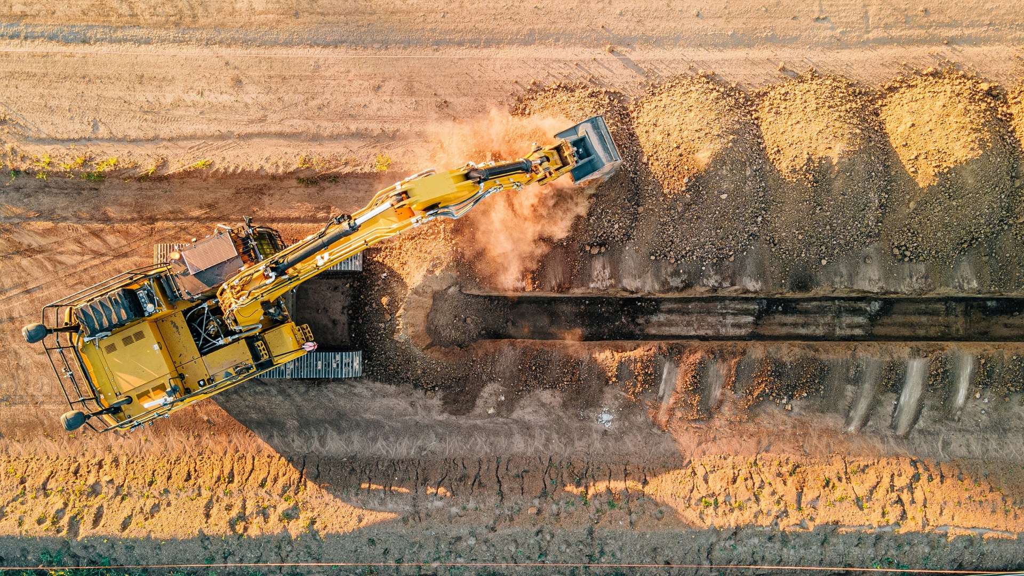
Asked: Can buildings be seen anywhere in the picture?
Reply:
No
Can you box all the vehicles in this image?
[21,110,627,433]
